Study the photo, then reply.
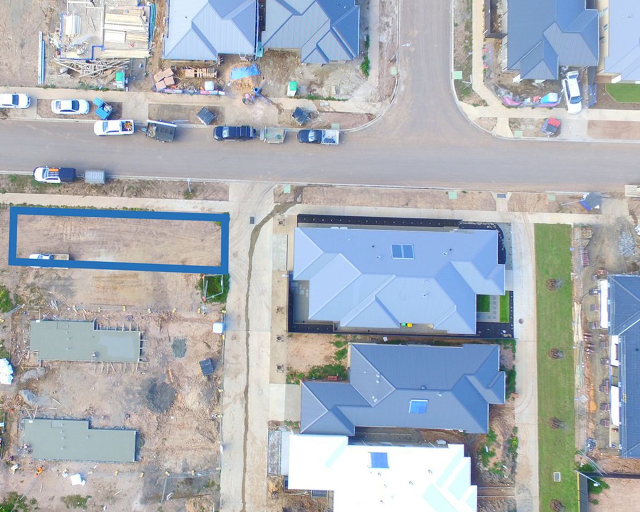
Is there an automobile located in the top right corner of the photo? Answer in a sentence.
Yes, an automobile can be seen in the top right corner of the photo.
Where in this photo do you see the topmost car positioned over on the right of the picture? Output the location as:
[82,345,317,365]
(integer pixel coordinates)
[565,71,588,112]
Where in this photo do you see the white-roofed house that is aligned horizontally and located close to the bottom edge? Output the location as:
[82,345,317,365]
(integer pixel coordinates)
[287,432,477,512]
